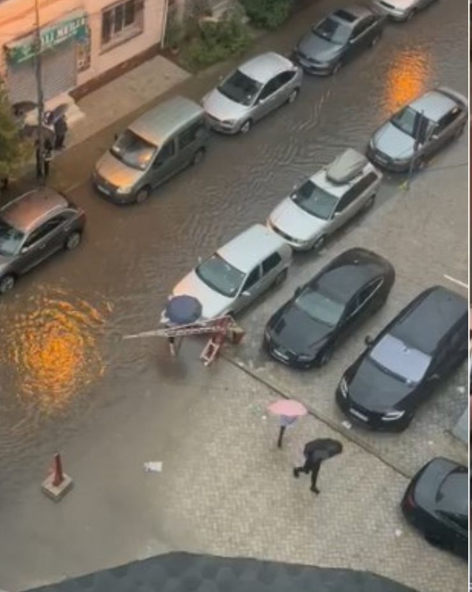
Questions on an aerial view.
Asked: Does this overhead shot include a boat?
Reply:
No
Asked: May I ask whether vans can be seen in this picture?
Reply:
Yes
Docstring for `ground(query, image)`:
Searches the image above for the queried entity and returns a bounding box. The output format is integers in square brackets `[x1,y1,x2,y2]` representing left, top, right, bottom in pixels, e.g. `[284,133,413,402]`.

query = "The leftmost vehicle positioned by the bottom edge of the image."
[395,469,471,568]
